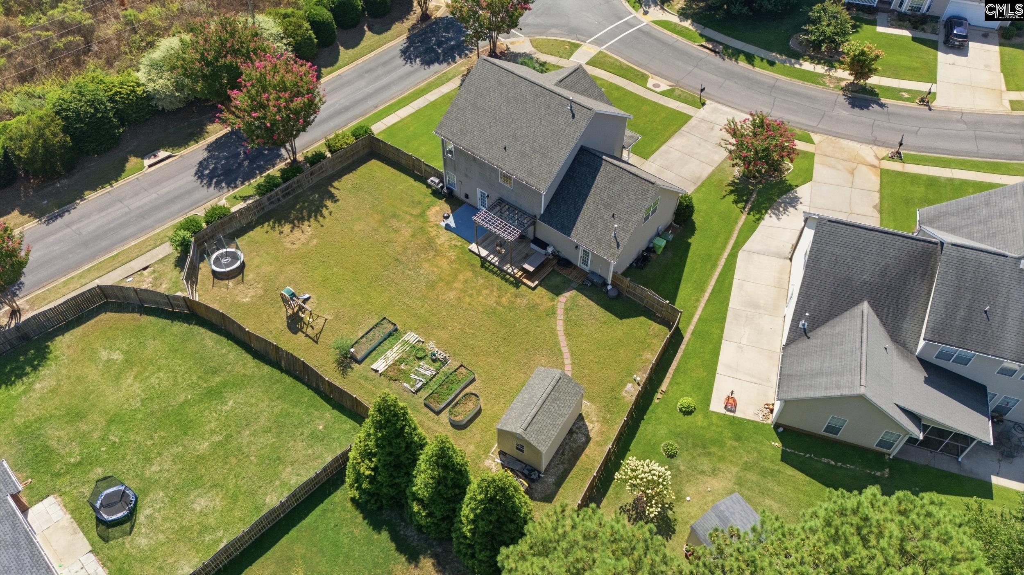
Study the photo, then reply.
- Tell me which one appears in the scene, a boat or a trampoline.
trampoline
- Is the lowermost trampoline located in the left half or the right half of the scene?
left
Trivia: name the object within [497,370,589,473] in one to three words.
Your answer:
shed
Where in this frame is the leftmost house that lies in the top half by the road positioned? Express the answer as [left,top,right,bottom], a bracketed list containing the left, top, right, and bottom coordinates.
[433,58,686,287]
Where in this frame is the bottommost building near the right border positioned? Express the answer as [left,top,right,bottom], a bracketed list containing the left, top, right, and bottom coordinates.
[768,165,1024,468]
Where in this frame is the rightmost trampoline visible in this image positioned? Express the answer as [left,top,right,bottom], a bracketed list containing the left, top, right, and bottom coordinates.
[202,232,244,279]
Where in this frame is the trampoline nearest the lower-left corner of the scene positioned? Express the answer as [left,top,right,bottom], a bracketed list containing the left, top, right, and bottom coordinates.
[81,477,138,530]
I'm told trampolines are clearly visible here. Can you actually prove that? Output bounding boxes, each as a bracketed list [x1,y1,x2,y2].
[81,477,138,530]
[202,232,244,279]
